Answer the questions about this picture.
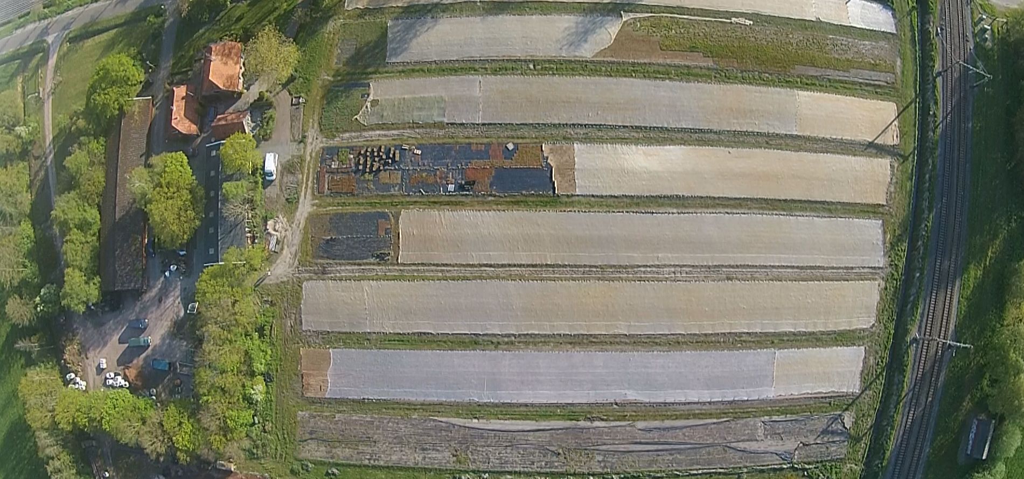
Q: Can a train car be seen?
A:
No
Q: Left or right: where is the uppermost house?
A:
left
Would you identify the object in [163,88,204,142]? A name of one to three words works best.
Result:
house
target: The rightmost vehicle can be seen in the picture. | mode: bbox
[263,150,278,179]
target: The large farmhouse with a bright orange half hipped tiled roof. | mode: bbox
[198,46,247,102]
